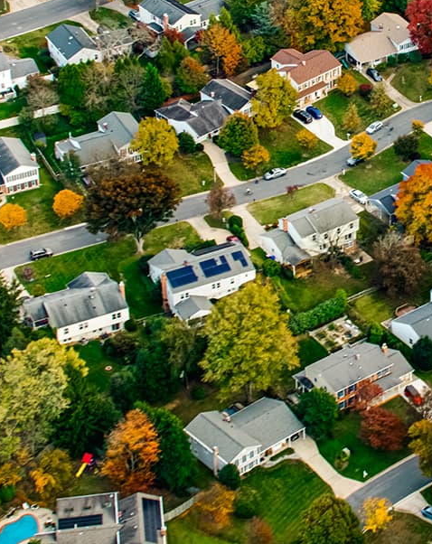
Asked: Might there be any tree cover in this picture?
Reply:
Yes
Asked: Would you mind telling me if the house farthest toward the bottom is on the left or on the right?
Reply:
left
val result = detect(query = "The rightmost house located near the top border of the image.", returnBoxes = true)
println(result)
[340,12,422,76]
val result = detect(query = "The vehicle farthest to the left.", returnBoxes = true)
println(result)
[26,247,56,263]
